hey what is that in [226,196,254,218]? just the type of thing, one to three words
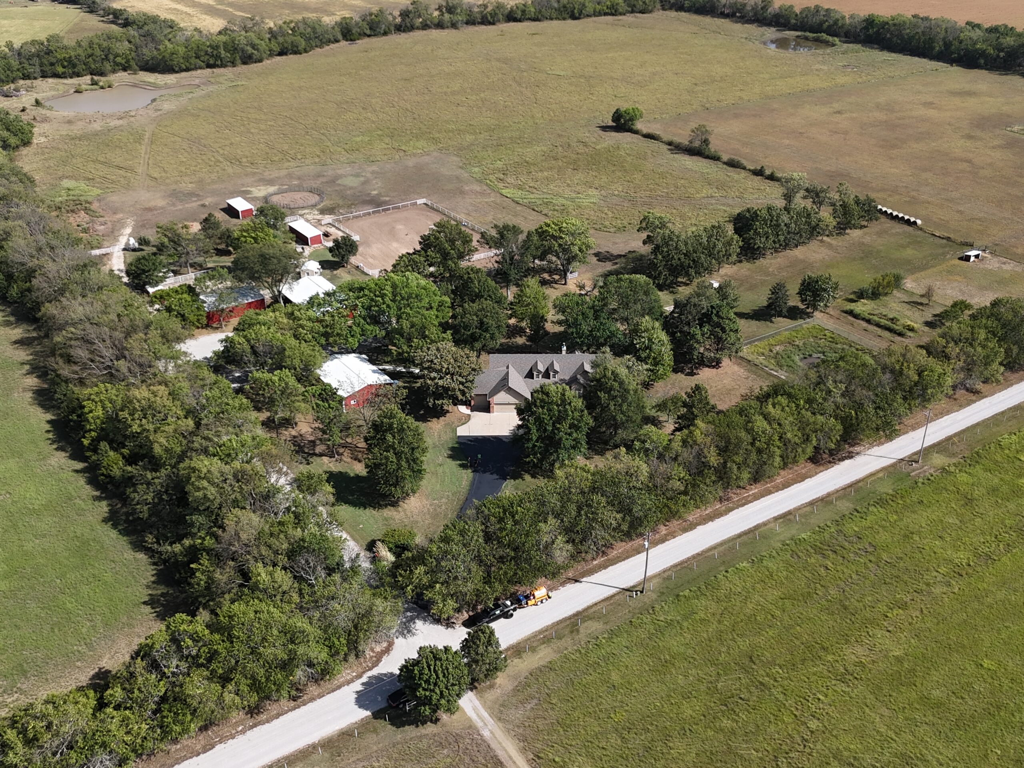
shed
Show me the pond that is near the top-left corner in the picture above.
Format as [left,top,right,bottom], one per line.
[49,85,198,113]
